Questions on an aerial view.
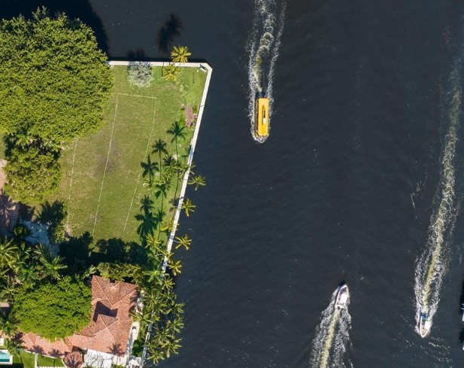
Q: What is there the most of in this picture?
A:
water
